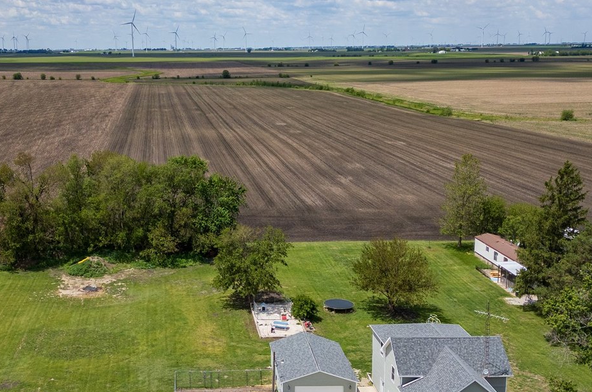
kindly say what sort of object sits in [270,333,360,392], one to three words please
building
